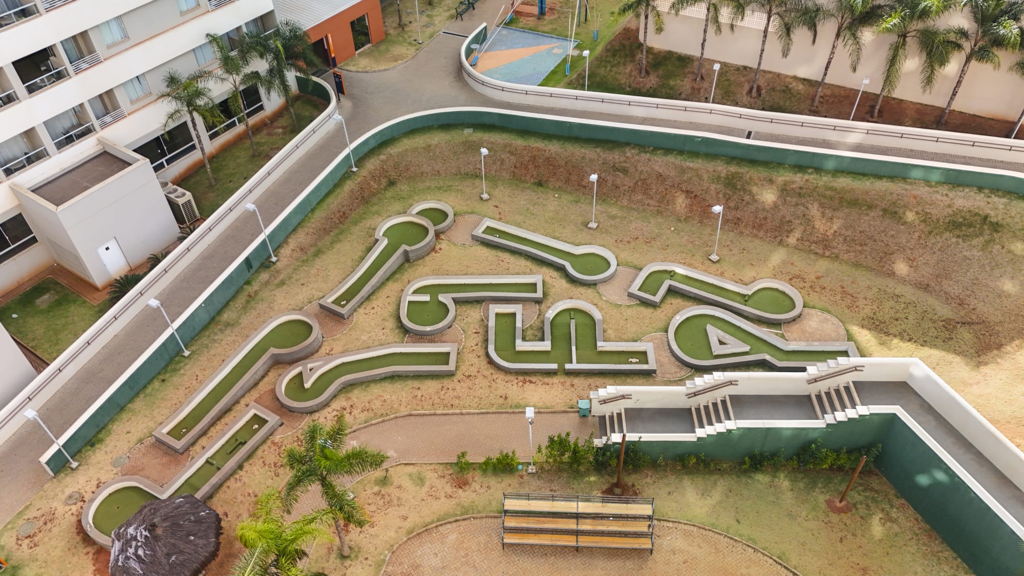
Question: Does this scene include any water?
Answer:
No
